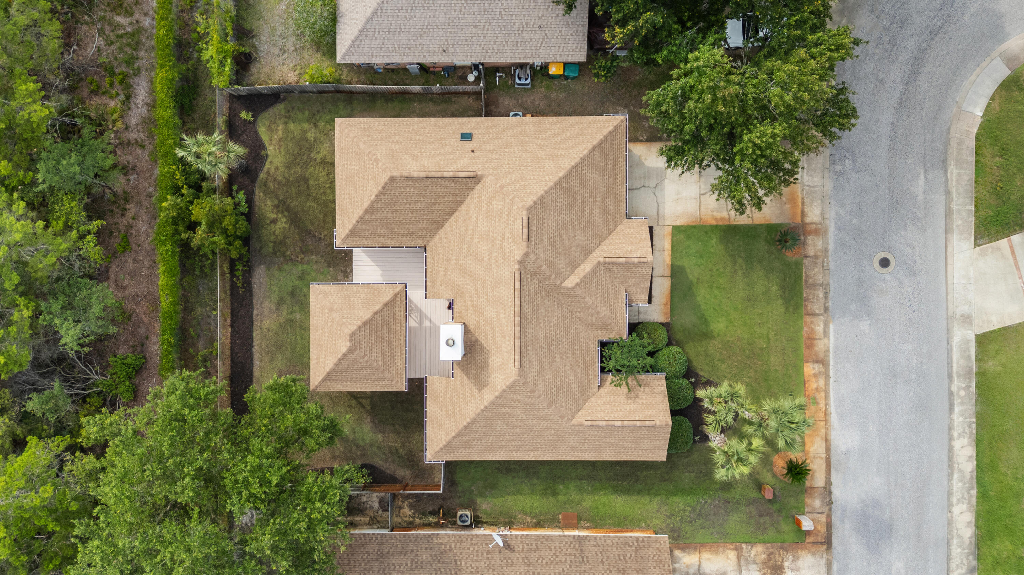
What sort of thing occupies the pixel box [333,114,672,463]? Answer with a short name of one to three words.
house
